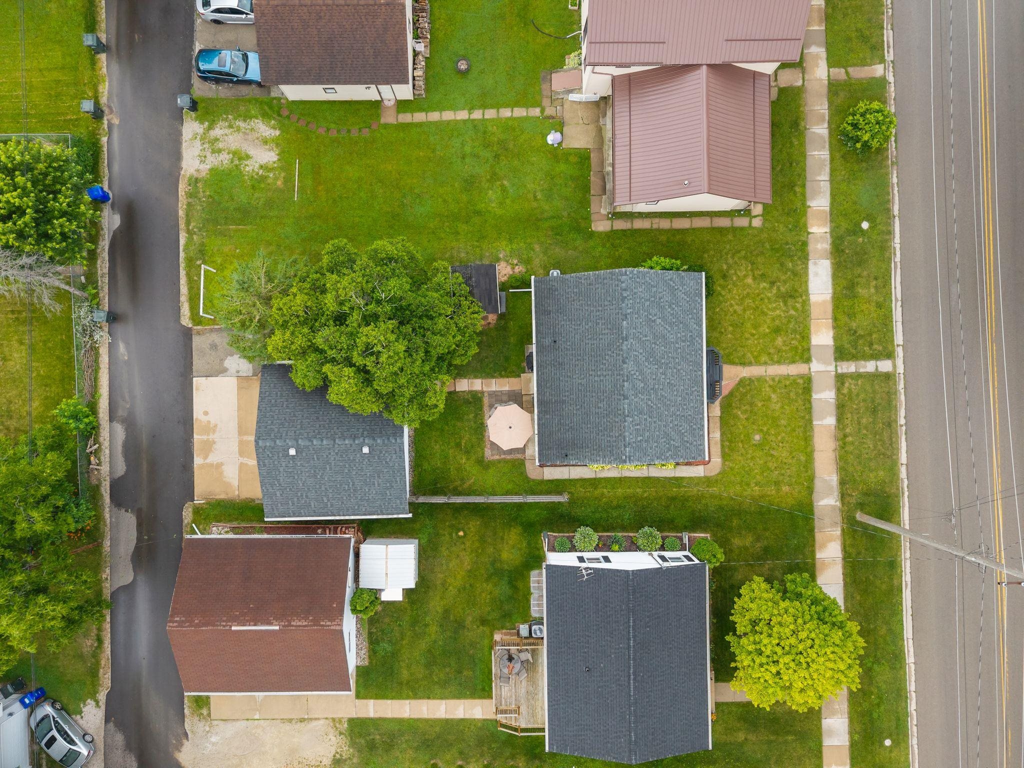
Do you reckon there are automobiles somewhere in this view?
Yes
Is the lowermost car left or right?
left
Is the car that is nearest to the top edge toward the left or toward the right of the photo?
left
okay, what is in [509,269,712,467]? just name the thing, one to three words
house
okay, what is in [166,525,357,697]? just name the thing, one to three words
building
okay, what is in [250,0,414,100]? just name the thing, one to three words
building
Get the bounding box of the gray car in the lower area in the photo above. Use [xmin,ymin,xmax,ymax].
[28,697,98,768]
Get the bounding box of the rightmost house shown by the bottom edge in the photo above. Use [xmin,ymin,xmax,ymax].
[541,537,713,768]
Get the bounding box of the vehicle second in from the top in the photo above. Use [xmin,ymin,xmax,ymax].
[195,39,262,84]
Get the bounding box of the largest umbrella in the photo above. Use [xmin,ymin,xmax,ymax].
[487,403,533,449]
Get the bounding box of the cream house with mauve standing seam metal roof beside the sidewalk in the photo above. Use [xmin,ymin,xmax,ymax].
[583,0,816,214]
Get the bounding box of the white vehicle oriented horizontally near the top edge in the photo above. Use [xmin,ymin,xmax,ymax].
[196,0,253,23]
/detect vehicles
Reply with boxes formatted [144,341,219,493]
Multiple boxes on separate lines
[195,39,262,84]
[28,697,98,768]
[196,0,253,23]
